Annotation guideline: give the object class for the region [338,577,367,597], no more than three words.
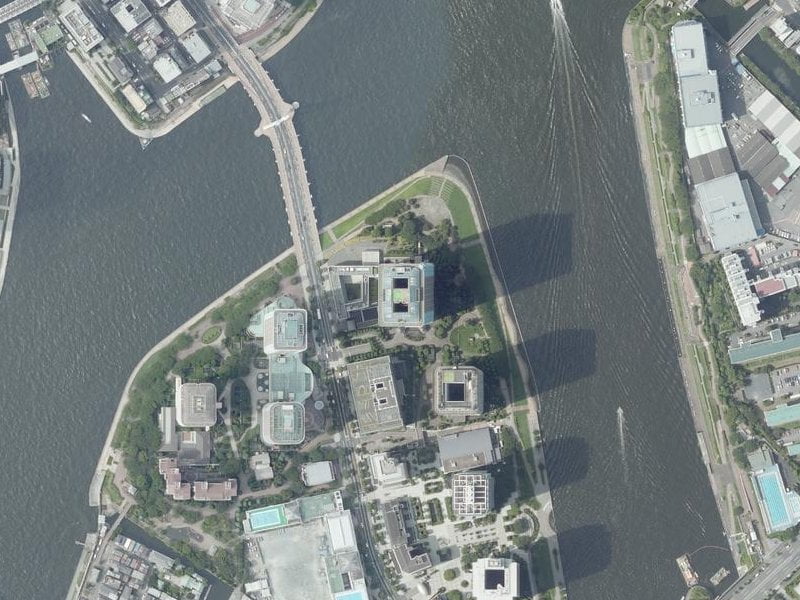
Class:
building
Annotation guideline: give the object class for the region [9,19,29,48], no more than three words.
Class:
ship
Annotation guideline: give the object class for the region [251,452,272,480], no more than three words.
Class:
house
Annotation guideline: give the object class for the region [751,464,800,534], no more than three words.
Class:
swimming pool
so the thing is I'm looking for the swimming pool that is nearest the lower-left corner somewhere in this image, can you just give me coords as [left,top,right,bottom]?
[246,504,288,534]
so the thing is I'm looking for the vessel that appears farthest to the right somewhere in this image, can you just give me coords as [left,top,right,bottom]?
[710,568,729,585]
